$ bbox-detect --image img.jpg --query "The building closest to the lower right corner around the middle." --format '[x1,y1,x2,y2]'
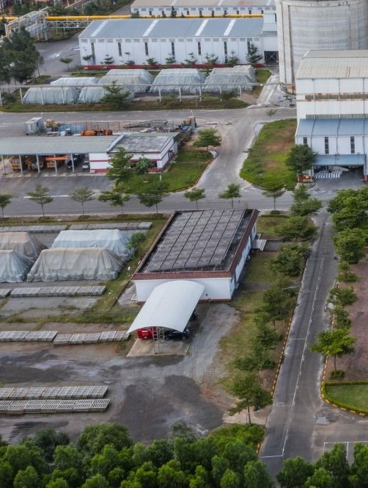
[131,202,272,301]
